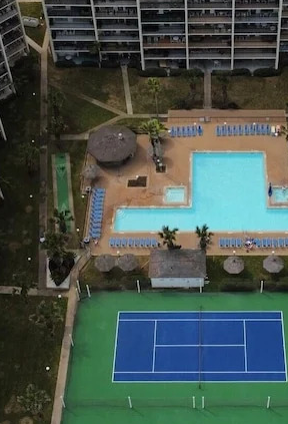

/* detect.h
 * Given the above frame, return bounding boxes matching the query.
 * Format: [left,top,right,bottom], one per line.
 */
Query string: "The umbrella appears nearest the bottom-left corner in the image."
[93,251,117,272]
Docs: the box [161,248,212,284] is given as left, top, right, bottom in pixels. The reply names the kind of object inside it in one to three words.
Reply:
shed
